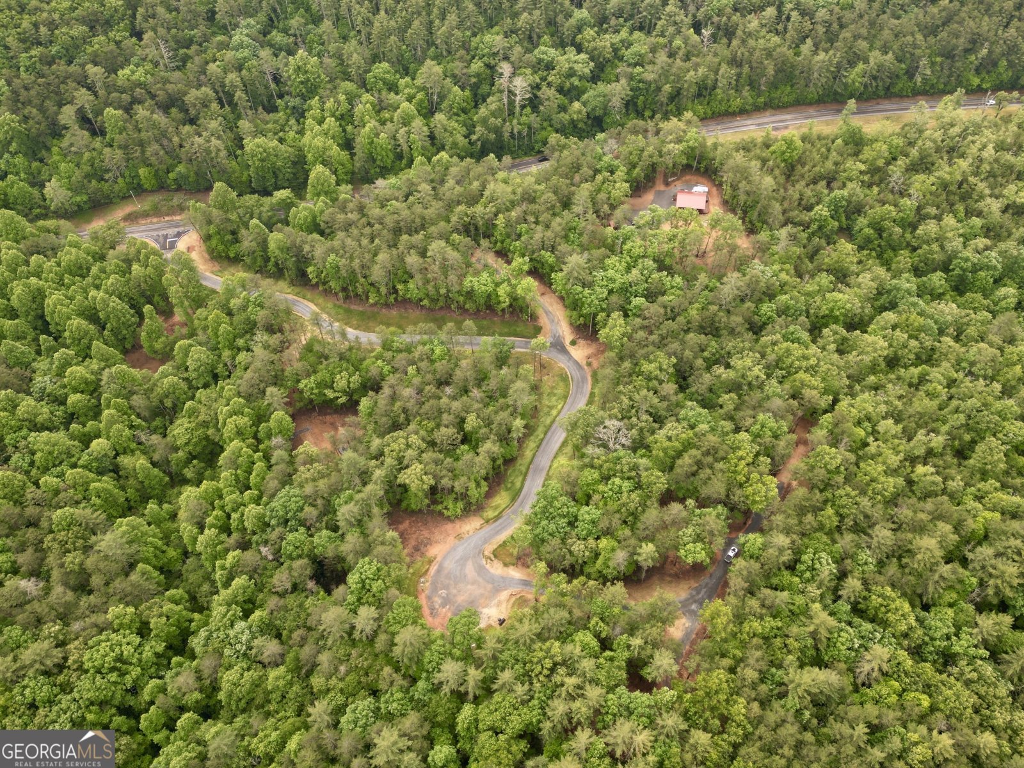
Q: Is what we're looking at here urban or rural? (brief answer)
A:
rural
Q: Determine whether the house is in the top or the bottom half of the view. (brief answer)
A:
top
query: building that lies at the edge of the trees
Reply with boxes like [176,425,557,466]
[672,190,709,219]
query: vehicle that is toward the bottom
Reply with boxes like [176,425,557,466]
[726,545,738,560]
